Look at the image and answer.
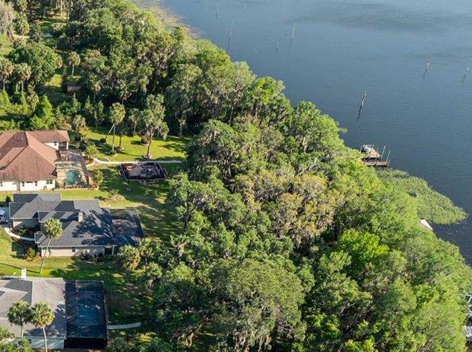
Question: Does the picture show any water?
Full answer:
Yes, there is water in the image.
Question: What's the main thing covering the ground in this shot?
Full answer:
The scene is dominated by trees.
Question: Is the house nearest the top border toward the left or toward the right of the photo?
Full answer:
The house nearest the top border appears in the left half of the scene.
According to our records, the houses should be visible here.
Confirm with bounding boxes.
[9,193,142,254]
[0,128,90,189]
[0,265,107,349]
